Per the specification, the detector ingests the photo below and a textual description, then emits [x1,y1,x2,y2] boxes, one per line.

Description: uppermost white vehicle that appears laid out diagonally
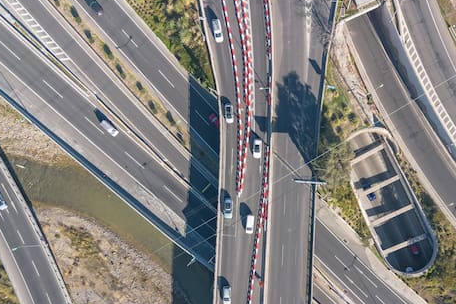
[100,120,119,138]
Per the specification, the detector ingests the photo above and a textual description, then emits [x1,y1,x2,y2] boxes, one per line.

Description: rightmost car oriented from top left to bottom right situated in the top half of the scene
[205,110,219,130]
